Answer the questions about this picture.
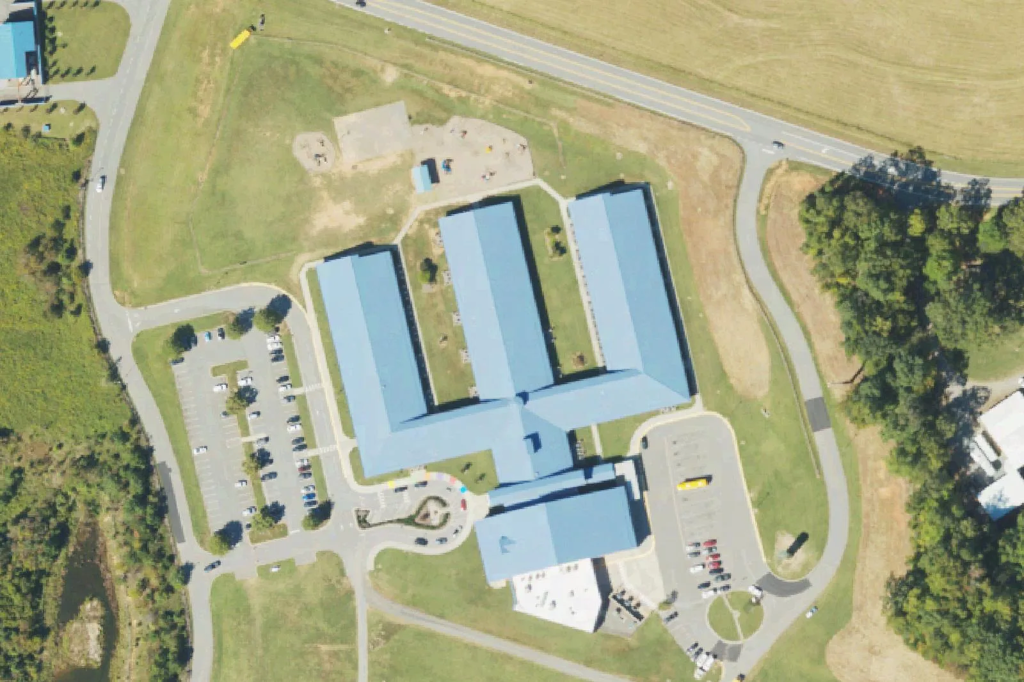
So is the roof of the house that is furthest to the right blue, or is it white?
white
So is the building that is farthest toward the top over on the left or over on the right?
left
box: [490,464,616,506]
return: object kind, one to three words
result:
building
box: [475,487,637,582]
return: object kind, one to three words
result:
building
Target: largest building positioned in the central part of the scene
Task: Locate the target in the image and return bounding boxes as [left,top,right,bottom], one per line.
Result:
[316,189,692,484]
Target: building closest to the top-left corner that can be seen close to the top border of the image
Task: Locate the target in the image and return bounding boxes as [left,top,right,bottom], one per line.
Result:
[0,21,35,78]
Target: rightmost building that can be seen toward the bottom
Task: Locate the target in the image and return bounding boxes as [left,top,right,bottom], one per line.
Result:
[969,391,1024,519]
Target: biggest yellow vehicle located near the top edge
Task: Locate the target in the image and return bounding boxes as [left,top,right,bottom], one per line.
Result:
[229,29,252,48]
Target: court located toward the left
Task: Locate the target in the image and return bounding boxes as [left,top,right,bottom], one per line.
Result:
[334,100,411,170]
